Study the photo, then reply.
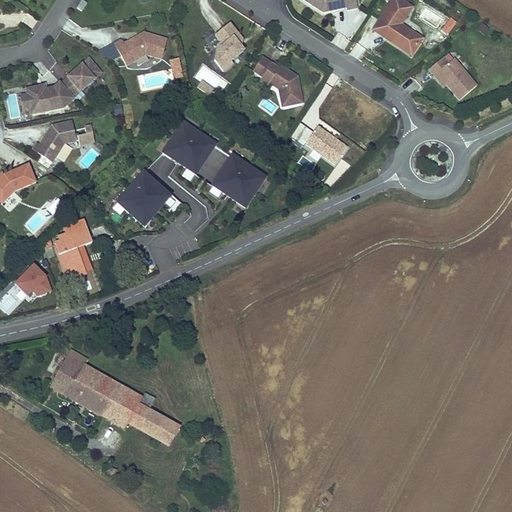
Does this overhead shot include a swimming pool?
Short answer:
Yes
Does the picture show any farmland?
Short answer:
Yes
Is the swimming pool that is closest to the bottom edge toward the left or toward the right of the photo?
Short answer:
left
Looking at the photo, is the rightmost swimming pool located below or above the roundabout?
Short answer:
above it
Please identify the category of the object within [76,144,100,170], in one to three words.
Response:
swimming pool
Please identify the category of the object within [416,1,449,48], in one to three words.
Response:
swimming pool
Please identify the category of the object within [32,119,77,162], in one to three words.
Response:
house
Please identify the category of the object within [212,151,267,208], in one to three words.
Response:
building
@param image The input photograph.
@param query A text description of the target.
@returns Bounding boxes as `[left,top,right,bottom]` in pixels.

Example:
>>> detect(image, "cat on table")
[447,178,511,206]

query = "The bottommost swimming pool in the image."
[24,197,60,232]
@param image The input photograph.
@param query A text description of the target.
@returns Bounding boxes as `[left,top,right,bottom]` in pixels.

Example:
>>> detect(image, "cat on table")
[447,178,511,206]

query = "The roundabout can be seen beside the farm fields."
[395,125,469,198]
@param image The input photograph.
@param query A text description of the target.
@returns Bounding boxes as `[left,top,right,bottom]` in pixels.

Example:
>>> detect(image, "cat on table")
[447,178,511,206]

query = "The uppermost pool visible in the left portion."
[138,69,173,93]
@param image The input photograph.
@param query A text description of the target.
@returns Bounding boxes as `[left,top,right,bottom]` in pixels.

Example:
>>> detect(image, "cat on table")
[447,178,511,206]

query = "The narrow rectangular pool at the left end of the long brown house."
[4,88,22,122]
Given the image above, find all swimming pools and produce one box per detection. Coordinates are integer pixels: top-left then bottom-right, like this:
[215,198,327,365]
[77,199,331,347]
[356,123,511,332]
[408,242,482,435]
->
[138,69,173,93]
[24,197,60,232]
[76,144,100,170]
[297,156,315,170]
[258,98,279,116]
[4,88,22,122]
[416,1,449,48]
